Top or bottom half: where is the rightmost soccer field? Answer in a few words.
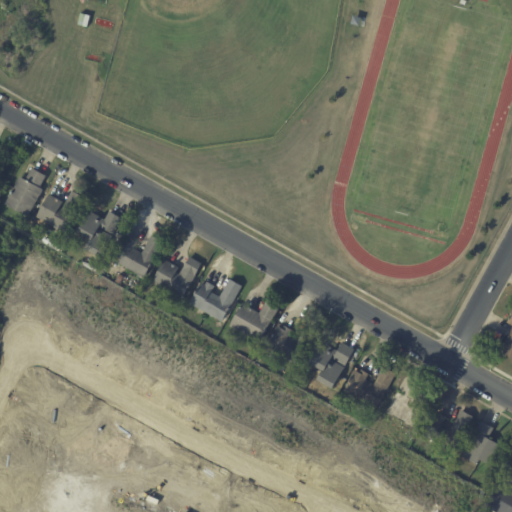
top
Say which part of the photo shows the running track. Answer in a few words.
top right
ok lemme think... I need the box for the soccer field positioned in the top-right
[356,0,507,226]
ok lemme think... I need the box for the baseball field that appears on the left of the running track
[101,0,338,146]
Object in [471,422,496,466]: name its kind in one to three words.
house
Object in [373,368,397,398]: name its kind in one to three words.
house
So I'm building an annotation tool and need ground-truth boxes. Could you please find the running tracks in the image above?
[332,0,512,278]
